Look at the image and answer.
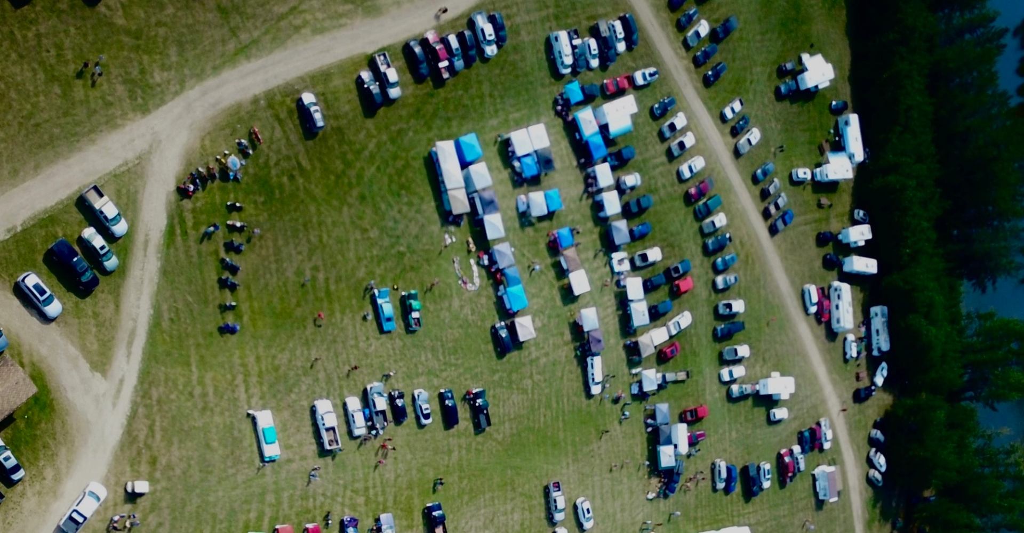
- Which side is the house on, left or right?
left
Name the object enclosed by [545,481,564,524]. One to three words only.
vehicle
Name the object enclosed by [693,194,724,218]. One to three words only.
truck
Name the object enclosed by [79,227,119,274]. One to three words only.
car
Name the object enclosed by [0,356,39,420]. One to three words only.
house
